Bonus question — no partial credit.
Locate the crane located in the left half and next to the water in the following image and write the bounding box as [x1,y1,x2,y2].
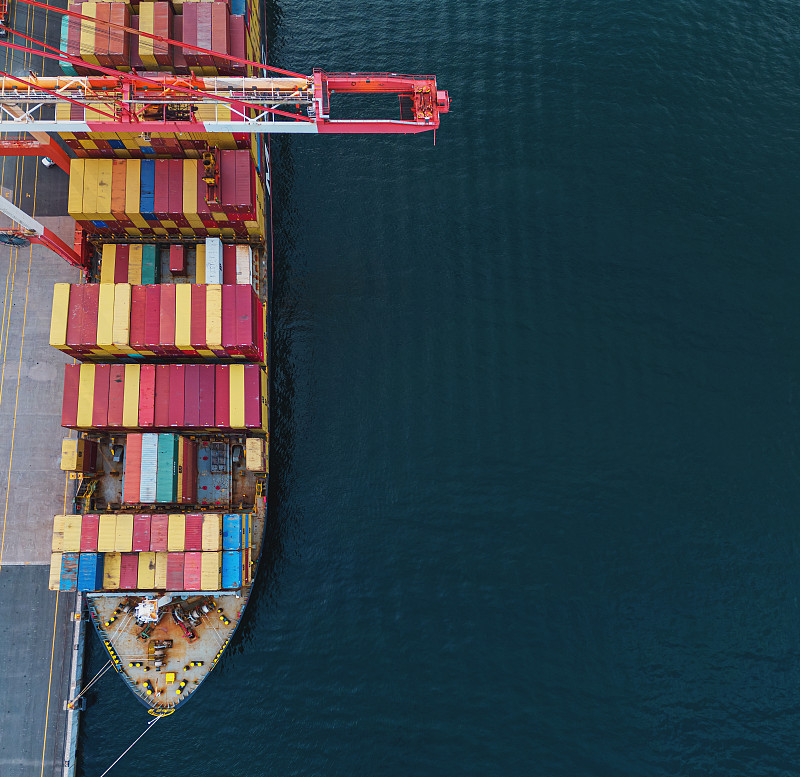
[0,0,455,282]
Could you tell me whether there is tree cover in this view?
No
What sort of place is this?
port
